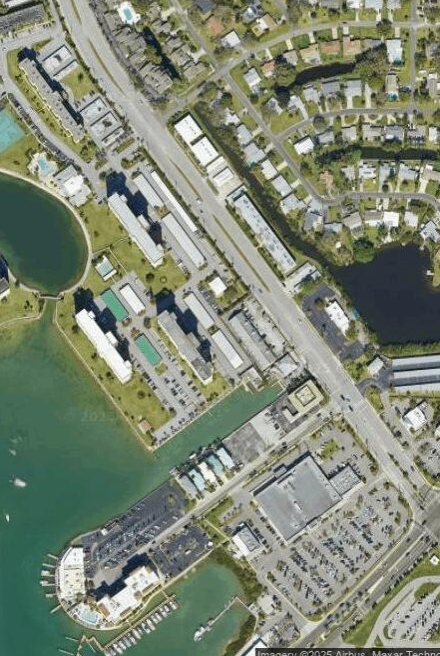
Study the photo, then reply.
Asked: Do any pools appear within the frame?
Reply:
Yes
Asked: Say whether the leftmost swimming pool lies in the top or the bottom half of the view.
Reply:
top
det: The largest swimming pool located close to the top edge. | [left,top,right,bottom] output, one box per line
[119,1,140,23]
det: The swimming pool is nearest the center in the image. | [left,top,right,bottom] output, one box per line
[95,257,116,280]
